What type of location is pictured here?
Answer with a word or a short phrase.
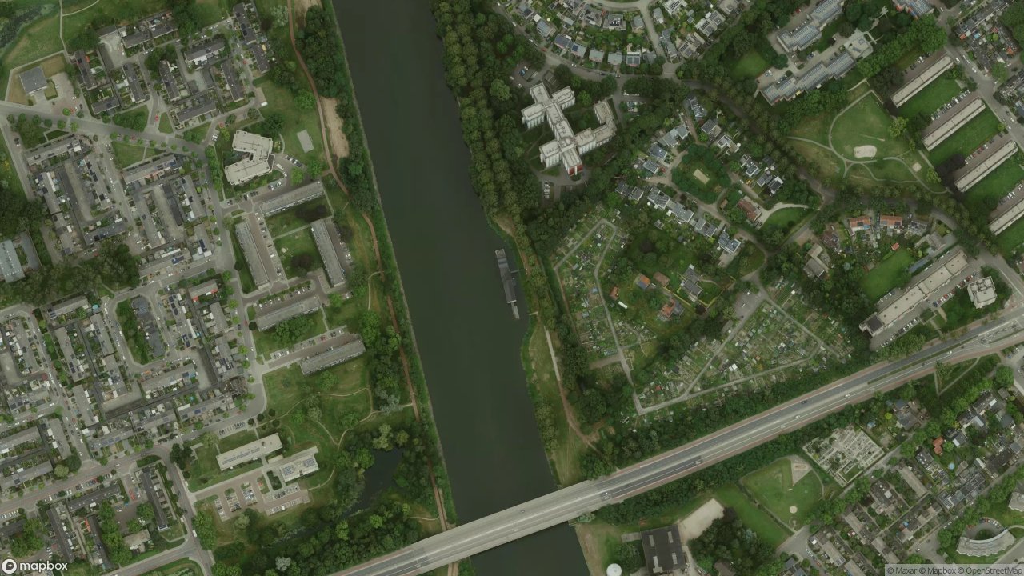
residential area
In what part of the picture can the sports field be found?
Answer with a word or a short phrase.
bottom right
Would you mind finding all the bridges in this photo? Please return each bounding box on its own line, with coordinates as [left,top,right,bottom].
[406,480,599,575]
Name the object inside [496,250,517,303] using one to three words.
ship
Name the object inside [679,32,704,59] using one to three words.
house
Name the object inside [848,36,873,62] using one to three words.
building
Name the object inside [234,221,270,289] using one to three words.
building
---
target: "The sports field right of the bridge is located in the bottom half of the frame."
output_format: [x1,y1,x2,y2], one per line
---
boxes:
[741,456,822,531]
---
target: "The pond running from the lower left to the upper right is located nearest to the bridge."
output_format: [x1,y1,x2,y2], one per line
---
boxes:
[303,448,402,535]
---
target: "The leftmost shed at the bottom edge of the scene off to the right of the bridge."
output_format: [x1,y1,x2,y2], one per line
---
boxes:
[621,524,686,575]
